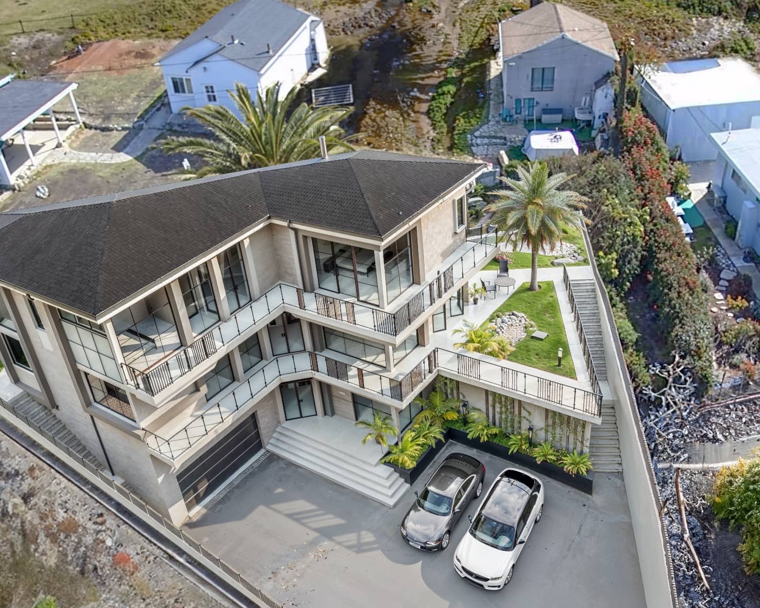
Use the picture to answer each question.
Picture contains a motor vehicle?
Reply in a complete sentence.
Yes, a motor vehicle can be made out from above.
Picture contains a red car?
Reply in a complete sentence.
No, I can't see a single red car in this photo.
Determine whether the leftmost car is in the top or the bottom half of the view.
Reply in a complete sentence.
The bottom half of the photo is where the leftmost car is.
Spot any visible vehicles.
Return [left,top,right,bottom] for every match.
[392,457,482,558]
[444,470,540,599]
